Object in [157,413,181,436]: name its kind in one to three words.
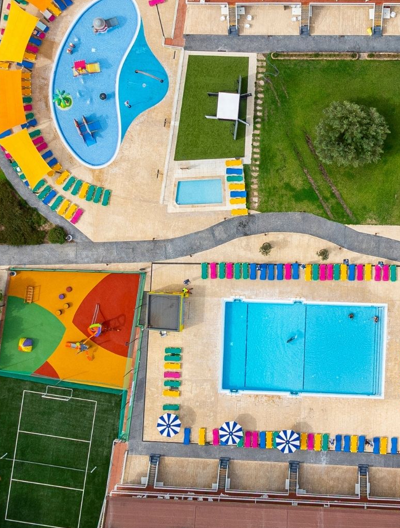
umbrella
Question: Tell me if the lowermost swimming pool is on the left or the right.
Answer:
right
